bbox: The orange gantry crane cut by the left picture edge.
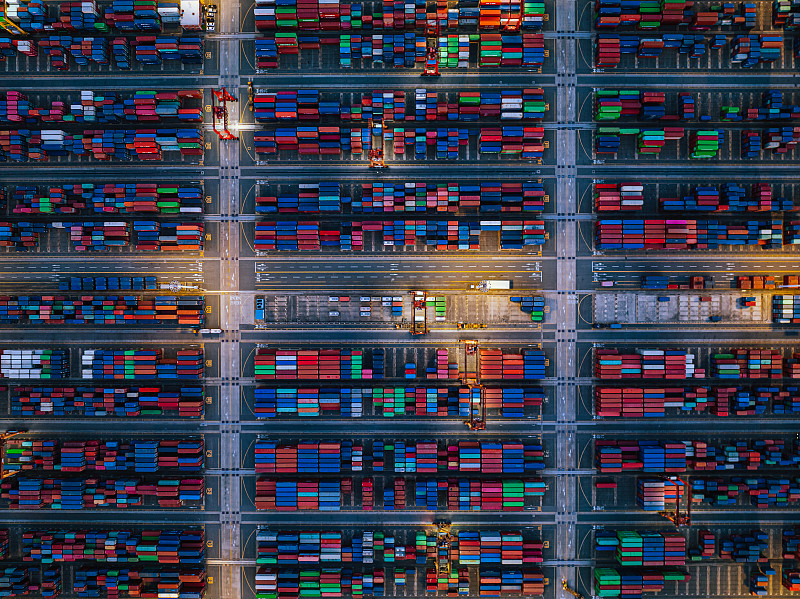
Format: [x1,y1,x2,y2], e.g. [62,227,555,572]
[0,429,26,483]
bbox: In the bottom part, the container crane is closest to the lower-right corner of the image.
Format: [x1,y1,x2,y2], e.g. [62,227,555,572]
[659,471,691,527]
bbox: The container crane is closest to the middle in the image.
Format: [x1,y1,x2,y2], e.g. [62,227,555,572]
[409,288,428,336]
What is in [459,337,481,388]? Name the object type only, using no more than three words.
container crane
